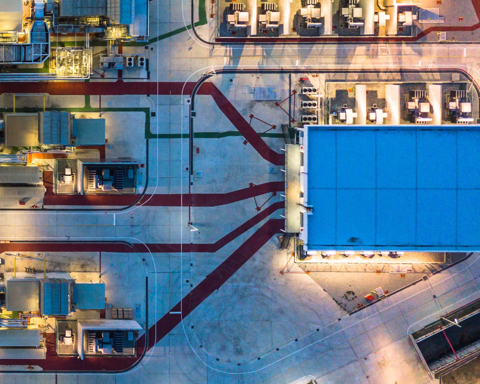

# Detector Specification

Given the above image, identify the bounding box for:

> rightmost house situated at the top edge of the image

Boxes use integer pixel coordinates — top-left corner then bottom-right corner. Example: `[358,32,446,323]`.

[101,0,150,36]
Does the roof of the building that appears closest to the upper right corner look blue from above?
Yes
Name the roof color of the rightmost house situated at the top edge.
blue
